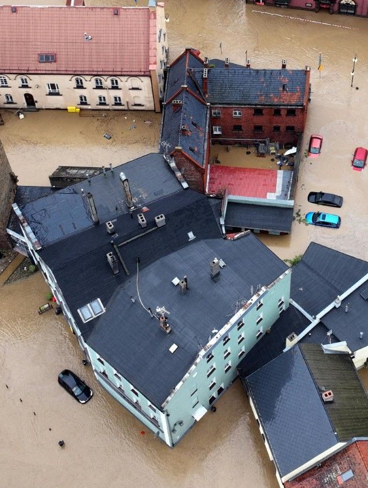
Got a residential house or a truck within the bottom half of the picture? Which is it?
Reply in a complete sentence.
Visible within the bottom half of the picture is a residential house.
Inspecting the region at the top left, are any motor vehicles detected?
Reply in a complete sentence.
No, the scene shows no motor vehicle at the top left.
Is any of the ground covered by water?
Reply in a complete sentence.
Yes, there's water in this view.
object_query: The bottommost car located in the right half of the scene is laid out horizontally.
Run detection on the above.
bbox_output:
[305,210,341,227]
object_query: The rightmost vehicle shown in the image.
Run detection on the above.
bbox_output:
[351,145,368,171]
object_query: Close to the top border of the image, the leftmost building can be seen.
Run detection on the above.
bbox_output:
[0,0,168,115]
